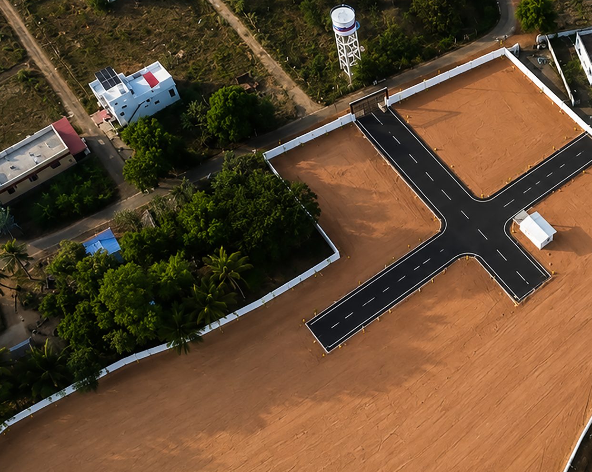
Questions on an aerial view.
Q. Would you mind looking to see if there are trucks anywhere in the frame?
No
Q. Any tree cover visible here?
Yes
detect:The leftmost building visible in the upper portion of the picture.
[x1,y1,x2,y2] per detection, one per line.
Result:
[0,119,93,201]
